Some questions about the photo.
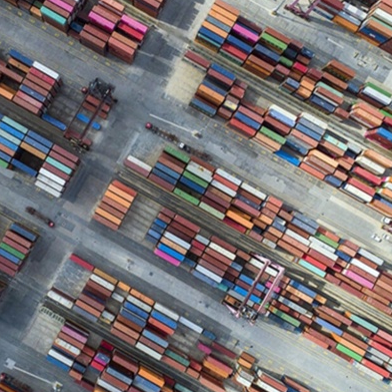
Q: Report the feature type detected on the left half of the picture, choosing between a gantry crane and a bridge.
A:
gantry crane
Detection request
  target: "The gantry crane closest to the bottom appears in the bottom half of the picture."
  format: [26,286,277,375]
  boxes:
[222,249,287,329]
